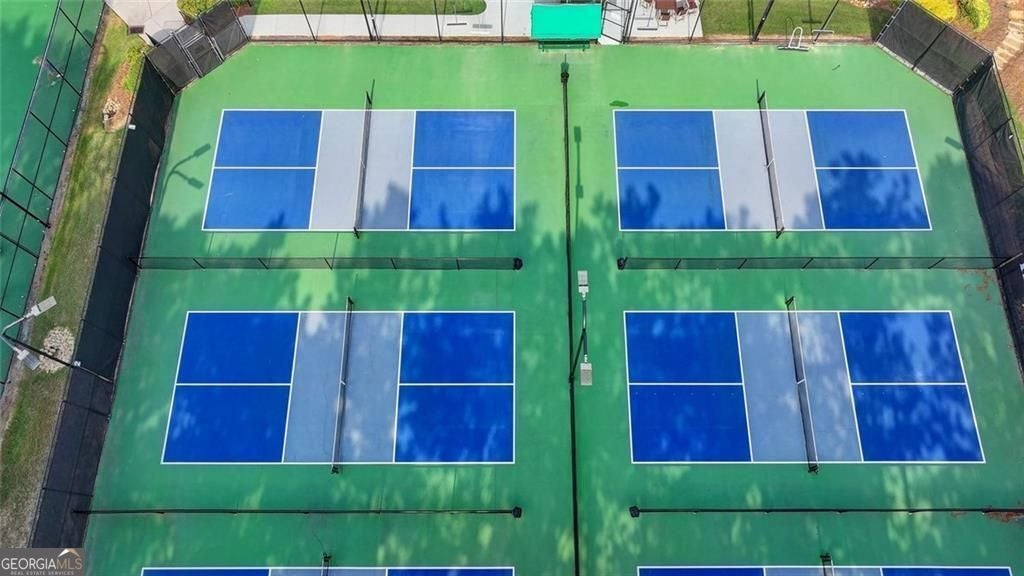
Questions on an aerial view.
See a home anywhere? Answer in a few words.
No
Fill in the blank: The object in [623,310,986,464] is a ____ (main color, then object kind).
blue sports court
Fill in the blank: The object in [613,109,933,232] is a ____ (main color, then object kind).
blue sports court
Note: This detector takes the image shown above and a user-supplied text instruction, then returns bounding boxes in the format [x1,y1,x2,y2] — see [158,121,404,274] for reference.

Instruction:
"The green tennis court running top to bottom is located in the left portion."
[0,0,105,415]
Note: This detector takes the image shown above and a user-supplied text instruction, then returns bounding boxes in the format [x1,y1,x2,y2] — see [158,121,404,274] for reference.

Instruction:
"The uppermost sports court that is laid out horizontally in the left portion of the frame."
[201,109,516,232]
